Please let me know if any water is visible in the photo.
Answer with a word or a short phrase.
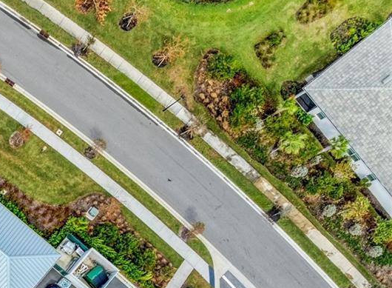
No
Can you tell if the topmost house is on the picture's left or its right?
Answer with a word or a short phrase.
right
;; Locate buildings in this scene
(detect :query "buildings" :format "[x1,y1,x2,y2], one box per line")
[0,204,61,288]
[295,17,392,219]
